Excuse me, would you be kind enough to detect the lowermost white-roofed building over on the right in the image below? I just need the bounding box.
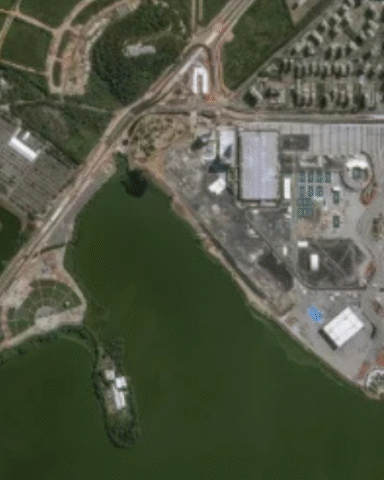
[323,307,364,347]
